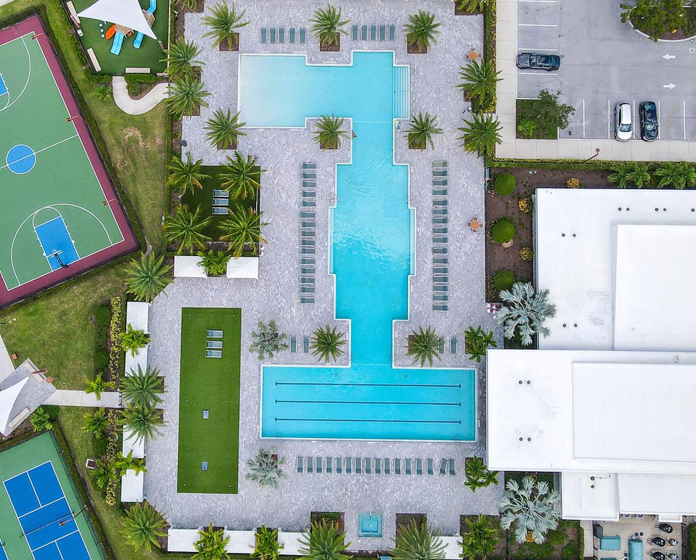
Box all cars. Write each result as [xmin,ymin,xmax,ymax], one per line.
[614,103,634,141]
[638,102,660,141]
[517,51,559,71]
